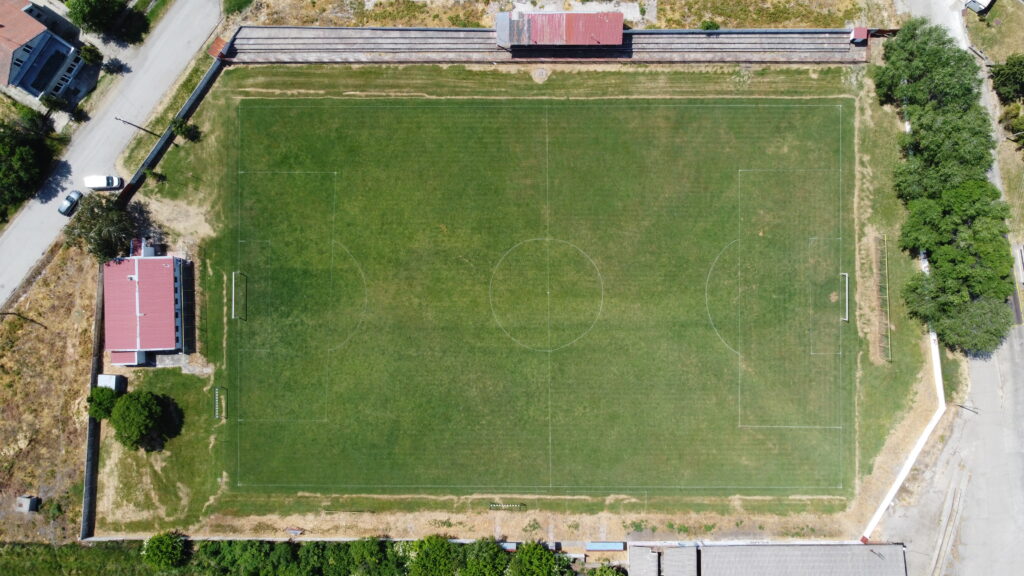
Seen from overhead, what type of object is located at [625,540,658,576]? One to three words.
building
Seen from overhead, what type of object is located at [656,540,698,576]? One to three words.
building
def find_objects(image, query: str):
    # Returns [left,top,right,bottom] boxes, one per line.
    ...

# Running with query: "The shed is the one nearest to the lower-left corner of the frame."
[98,372,124,390]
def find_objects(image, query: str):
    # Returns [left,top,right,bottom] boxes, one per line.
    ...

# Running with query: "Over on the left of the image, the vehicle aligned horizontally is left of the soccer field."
[80,174,120,189]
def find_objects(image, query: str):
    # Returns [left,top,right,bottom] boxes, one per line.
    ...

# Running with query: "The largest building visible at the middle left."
[104,239,183,362]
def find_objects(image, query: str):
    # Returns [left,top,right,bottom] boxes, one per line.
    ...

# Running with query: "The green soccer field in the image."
[229,98,857,497]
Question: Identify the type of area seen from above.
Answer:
sports ground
